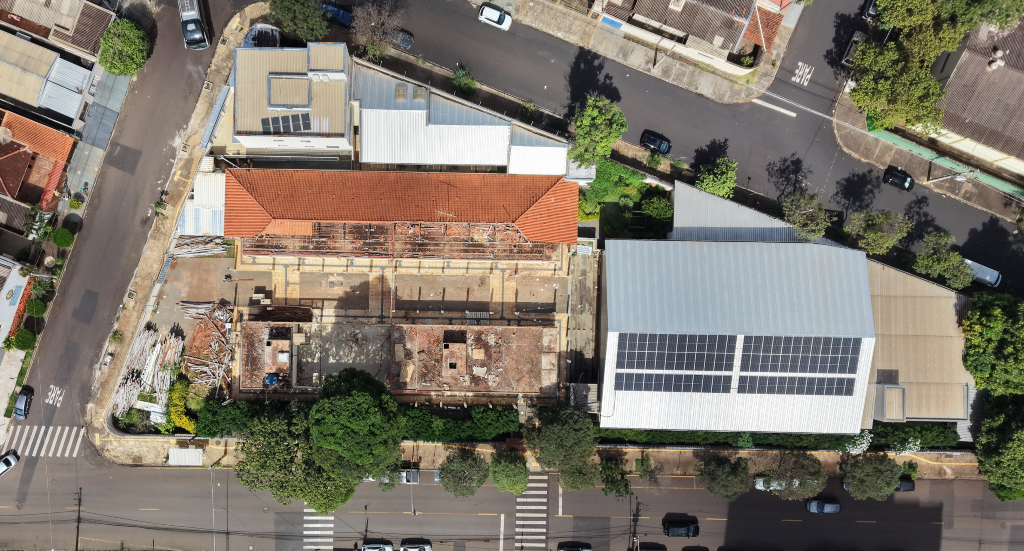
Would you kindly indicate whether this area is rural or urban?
urban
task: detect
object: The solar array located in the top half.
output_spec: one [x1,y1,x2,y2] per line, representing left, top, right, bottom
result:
[261,113,311,134]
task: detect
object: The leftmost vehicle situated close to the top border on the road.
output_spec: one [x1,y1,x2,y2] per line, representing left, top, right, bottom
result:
[180,0,217,55]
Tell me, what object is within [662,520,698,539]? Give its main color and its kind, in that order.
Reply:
black car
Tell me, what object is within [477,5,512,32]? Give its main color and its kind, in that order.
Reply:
white car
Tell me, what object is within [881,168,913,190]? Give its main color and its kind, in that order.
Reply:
black car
